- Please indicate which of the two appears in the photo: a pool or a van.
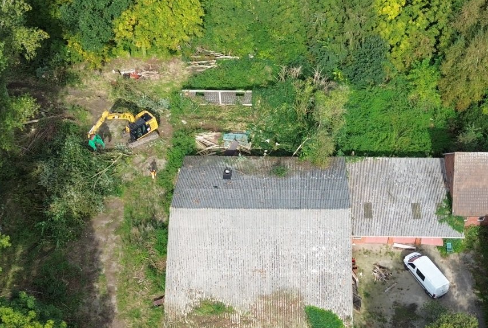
van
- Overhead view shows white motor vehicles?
Yes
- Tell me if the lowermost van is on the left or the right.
right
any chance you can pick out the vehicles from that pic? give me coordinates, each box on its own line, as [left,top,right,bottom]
[92,112,161,161]
[402,254,452,299]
